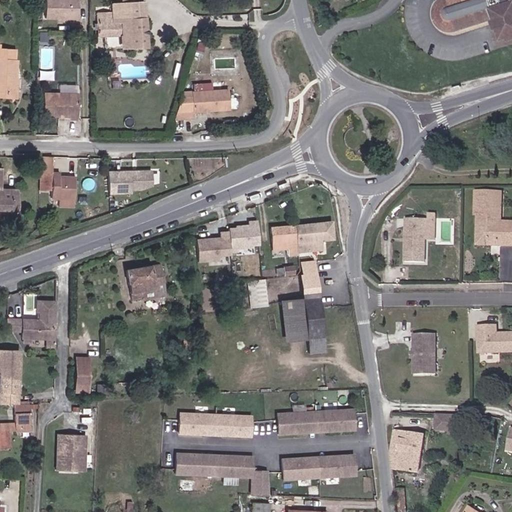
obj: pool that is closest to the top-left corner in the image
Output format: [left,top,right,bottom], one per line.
[39,46,54,70]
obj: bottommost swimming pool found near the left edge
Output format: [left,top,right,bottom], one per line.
[24,294,36,314]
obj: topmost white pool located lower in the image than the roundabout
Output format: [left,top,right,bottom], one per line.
[437,218,454,244]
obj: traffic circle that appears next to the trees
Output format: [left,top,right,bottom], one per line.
[302,78,460,206]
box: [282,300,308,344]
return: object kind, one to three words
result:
barn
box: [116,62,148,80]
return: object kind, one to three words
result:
swimming pool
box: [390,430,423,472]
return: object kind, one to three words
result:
house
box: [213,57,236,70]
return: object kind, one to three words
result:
swimming pool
